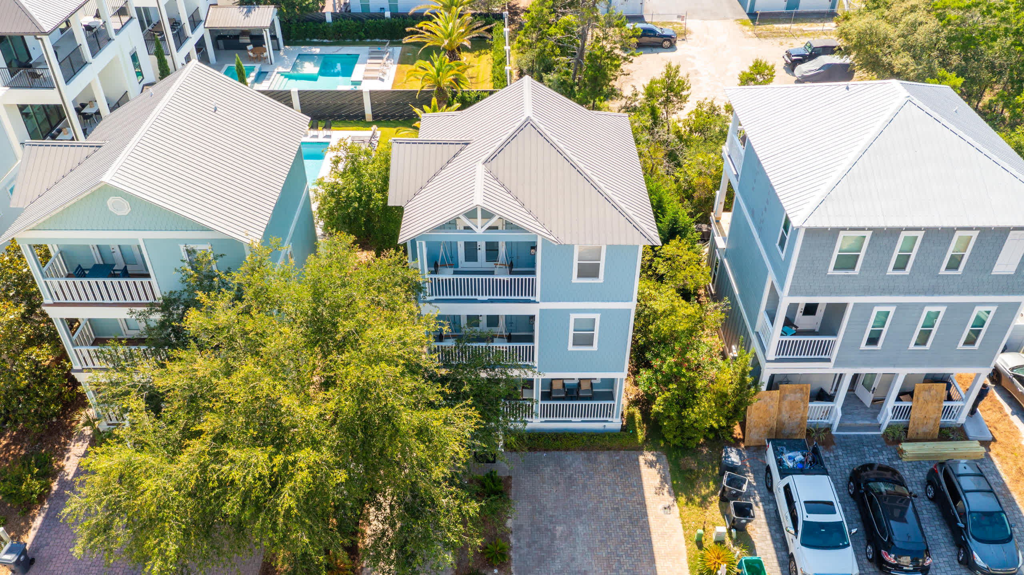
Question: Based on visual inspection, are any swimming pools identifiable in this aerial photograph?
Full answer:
Yes, you can see a swimming pool in this photo.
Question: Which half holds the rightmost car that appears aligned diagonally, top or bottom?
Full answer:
It is in the bottom half that the rightmost car that appears aligned diagonally appears.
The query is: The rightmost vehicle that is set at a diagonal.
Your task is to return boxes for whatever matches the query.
[926,459,1024,575]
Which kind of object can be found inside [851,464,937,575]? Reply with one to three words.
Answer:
car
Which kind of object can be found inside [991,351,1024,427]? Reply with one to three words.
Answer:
car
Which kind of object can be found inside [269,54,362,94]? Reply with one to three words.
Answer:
swimming pool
